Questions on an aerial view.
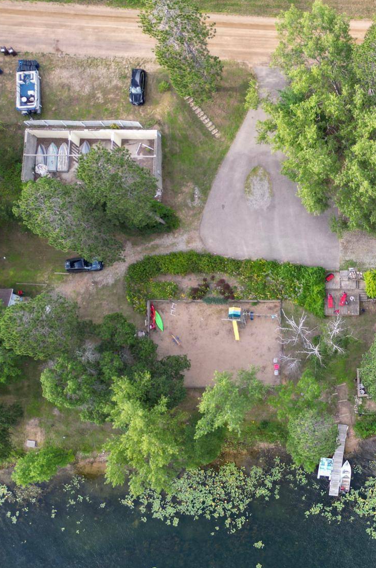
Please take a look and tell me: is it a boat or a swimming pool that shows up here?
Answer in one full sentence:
The one in the frame is a boat.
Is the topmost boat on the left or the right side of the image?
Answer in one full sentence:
You can find the topmost boat on the left side of the picture.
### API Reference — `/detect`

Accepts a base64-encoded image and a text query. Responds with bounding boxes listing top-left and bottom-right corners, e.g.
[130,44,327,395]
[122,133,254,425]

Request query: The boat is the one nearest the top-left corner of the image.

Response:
[14,65,40,113]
